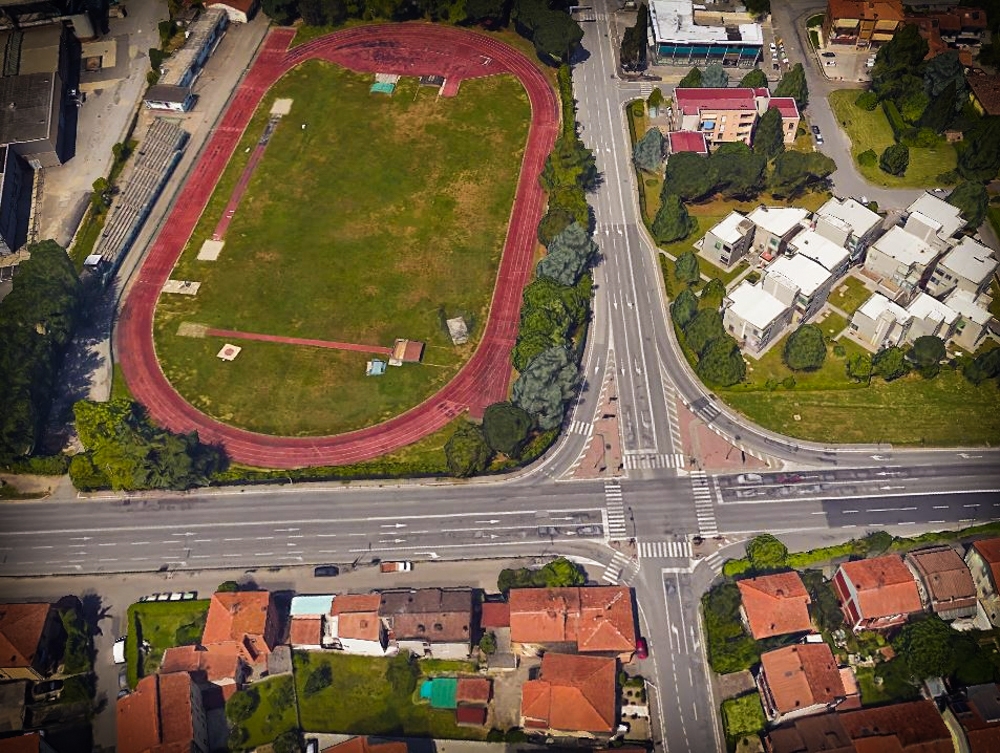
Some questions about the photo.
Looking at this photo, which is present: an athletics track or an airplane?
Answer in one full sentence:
Visible in the photo is an athletics track.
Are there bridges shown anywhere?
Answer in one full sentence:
No, there's no bridge here.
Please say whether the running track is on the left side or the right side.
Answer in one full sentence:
The running track sits on the left side.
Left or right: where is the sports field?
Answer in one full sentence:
The sports field sits on the left side.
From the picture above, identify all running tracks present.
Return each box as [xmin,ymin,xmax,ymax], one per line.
[116,23,561,469]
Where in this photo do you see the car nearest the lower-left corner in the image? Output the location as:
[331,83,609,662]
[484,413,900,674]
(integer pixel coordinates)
[34,683,62,695]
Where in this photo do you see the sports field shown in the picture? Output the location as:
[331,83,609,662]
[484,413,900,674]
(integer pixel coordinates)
[153,59,530,437]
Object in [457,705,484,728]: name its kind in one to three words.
building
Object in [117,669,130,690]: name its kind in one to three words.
vehicle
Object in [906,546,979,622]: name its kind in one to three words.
house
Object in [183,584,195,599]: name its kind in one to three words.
vehicle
